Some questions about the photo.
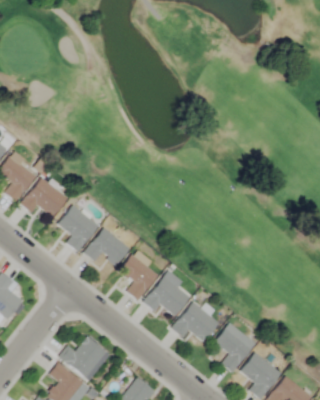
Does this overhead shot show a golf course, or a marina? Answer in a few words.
golf course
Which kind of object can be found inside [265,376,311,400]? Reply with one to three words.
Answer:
house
